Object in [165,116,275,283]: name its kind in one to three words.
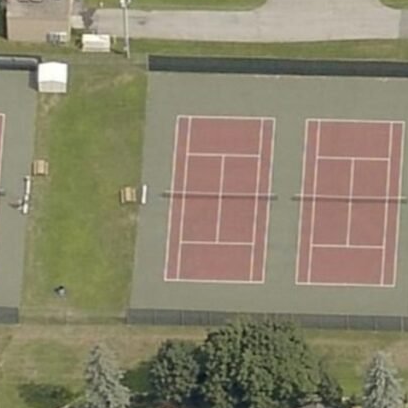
tennis court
